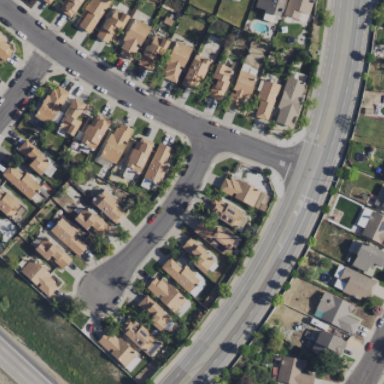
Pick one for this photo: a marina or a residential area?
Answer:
residential area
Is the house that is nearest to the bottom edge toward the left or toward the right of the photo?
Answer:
right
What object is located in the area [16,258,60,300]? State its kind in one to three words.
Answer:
house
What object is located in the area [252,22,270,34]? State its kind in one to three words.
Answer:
swimming pool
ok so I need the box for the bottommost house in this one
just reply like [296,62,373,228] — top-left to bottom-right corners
[277,358,310,384]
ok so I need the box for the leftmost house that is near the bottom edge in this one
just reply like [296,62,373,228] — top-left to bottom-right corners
[96,329,141,371]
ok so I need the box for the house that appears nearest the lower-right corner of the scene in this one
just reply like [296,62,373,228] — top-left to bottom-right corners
[314,325,350,359]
